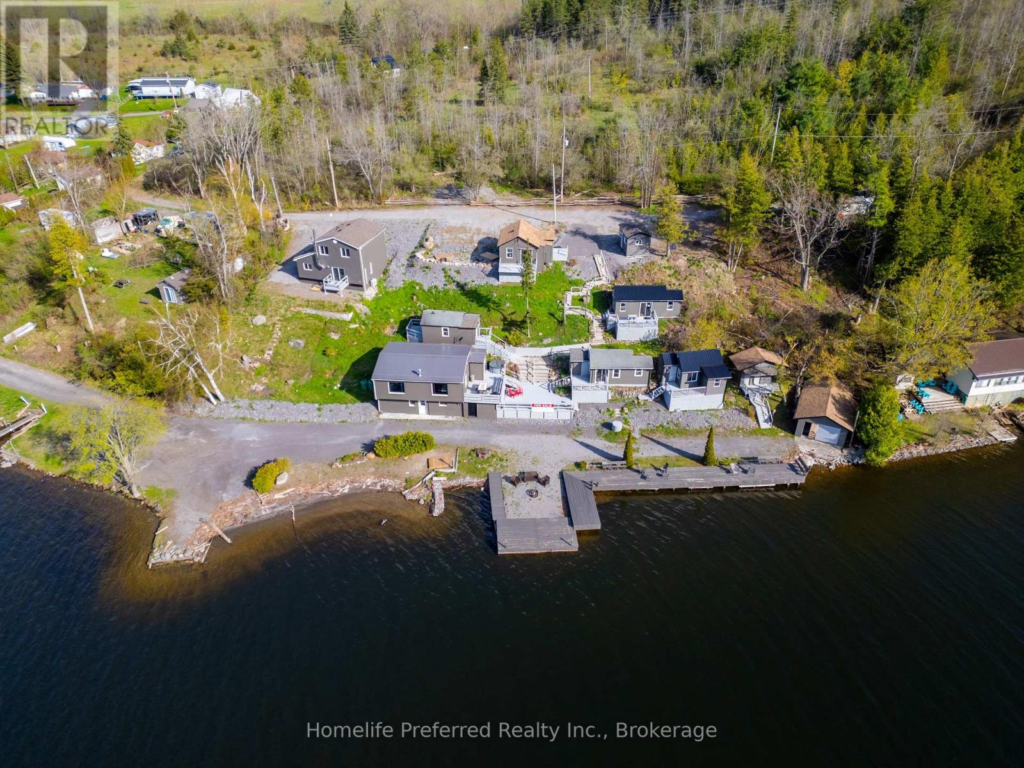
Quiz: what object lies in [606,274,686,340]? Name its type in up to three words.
house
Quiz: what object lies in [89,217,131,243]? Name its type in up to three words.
shed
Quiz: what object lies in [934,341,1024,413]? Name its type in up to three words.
house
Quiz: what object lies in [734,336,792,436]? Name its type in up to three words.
building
